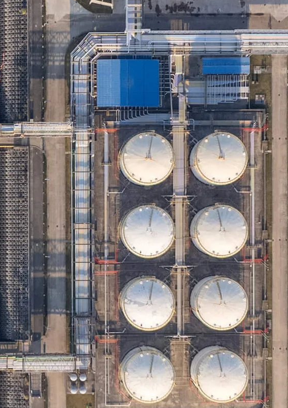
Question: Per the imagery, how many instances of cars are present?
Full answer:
The count of cars is 0.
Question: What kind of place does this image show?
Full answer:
The area seen from above is an industrial area.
